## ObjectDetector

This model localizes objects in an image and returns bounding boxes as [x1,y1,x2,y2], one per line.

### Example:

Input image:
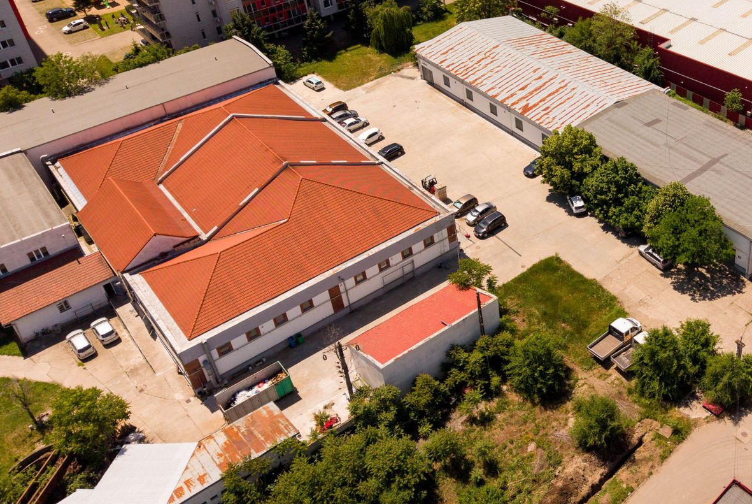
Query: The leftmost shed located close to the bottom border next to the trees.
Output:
[84,434,201,504]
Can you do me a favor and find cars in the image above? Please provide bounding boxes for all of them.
[343,116,370,130]
[303,75,325,90]
[606,217,639,241]
[47,7,74,19]
[451,192,481,216]
[63,18,88,32]
[380,140,408,159]
[333,106,359,123]
[522,156,547,177]
[464,202,498,226]
[637,246,676,270]
[64,331,93,358]
[359,125,386,143]
[322,96,351,116]
[91,318,118,344]
[473,210,507,239]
